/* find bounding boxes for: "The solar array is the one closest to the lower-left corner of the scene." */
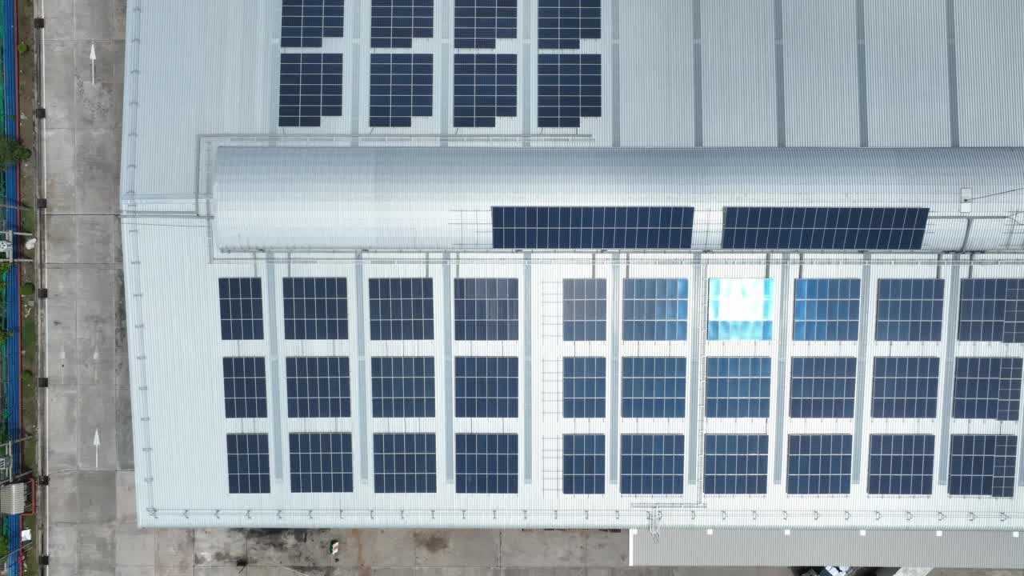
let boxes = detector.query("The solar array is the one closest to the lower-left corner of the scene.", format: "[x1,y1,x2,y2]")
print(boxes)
[225,426,269,493]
